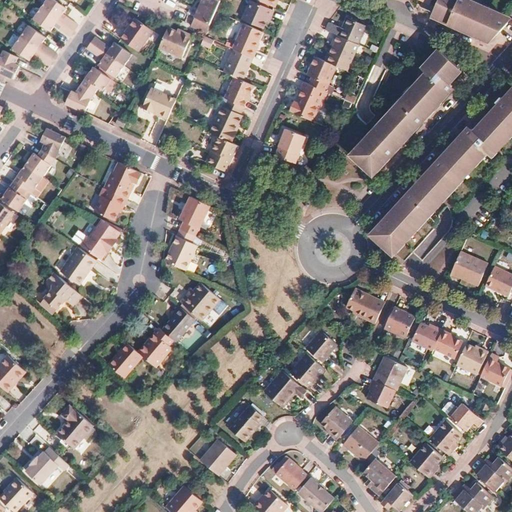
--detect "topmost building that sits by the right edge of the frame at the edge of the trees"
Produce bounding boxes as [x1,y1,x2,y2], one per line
[430,0,506,44]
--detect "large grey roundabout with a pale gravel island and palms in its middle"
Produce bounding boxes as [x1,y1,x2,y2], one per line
[296,213,363,281]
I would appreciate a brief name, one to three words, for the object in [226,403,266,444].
house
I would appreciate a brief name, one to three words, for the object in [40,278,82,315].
house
